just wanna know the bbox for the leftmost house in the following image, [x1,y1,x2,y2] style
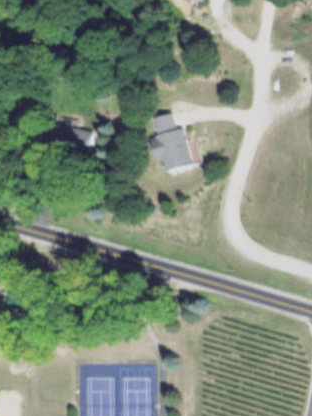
[72,128,99,149]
